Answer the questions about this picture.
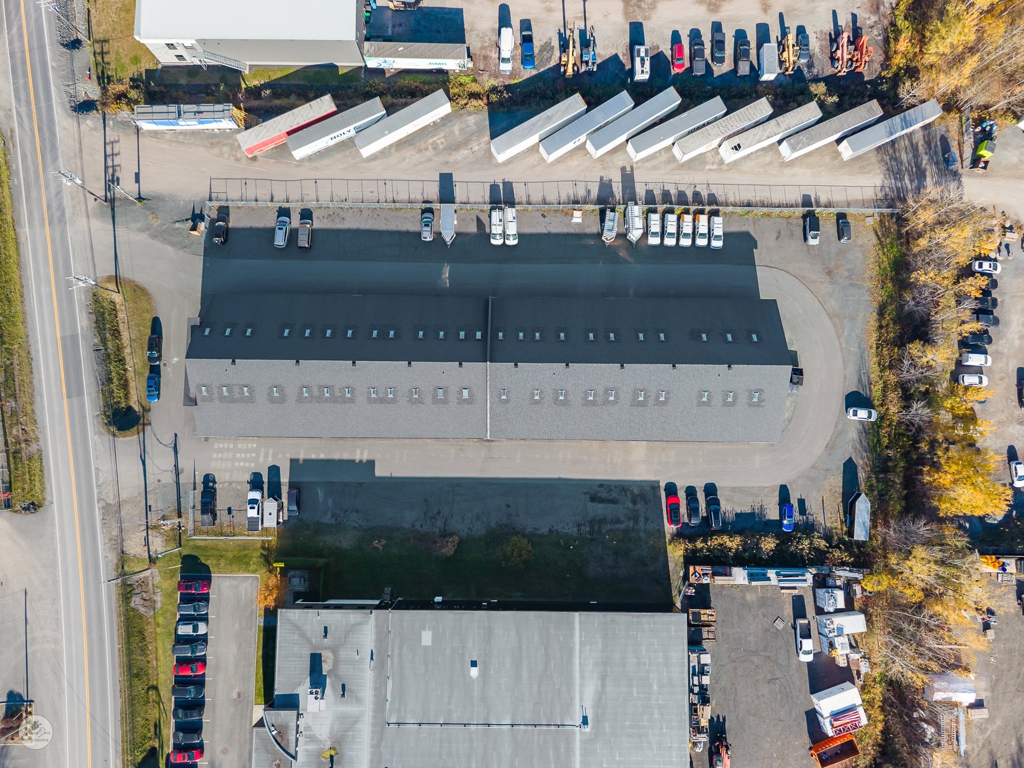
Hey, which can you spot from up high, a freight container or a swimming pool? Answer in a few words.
freight container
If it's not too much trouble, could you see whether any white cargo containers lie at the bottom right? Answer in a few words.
Yes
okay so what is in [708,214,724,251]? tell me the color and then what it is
white vehicle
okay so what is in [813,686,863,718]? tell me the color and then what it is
white shipping container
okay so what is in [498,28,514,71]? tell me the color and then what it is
white vehicle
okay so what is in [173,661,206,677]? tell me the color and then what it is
red car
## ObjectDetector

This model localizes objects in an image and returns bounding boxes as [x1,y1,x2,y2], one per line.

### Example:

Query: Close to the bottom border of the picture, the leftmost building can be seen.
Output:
[247,588,692,768]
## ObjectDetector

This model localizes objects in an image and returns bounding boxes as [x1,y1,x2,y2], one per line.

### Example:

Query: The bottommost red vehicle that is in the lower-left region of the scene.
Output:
[170,746,203,765]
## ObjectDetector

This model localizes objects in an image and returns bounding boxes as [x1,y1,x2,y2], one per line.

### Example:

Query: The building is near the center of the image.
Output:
[183,295,794,443]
